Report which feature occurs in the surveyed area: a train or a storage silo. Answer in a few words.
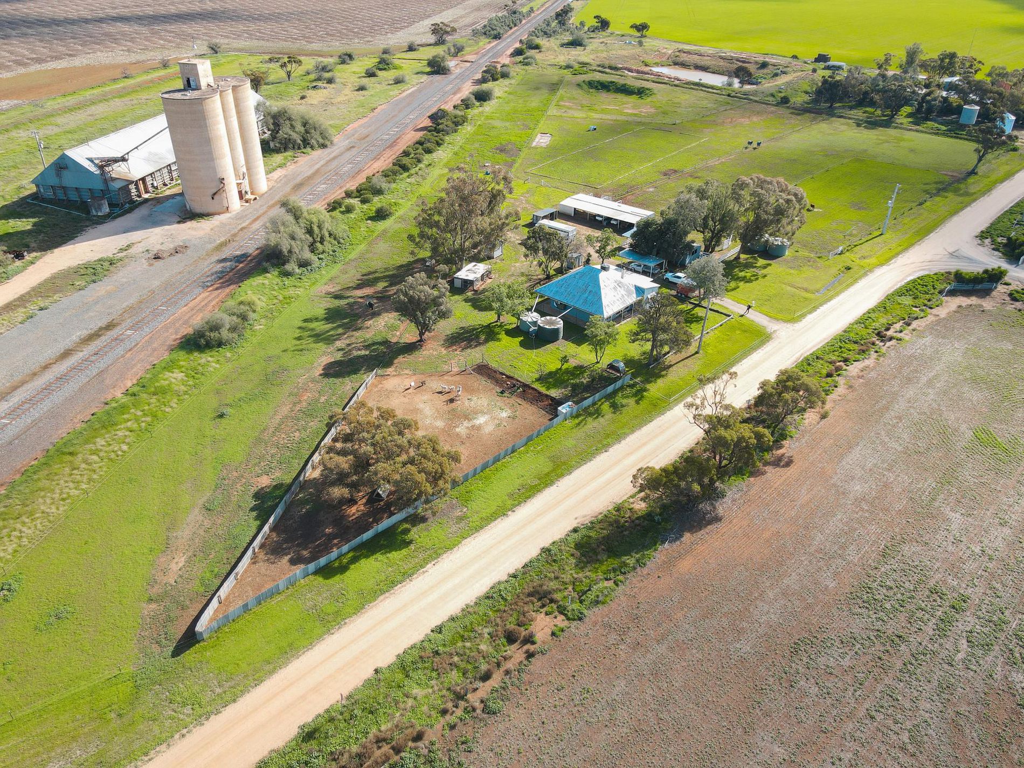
storage silo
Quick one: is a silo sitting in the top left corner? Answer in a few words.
Yes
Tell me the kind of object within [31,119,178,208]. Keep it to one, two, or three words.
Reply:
shed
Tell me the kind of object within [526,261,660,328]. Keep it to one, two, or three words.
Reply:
house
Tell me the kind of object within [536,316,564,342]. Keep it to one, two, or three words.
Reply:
water tank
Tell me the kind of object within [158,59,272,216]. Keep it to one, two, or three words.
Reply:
silo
